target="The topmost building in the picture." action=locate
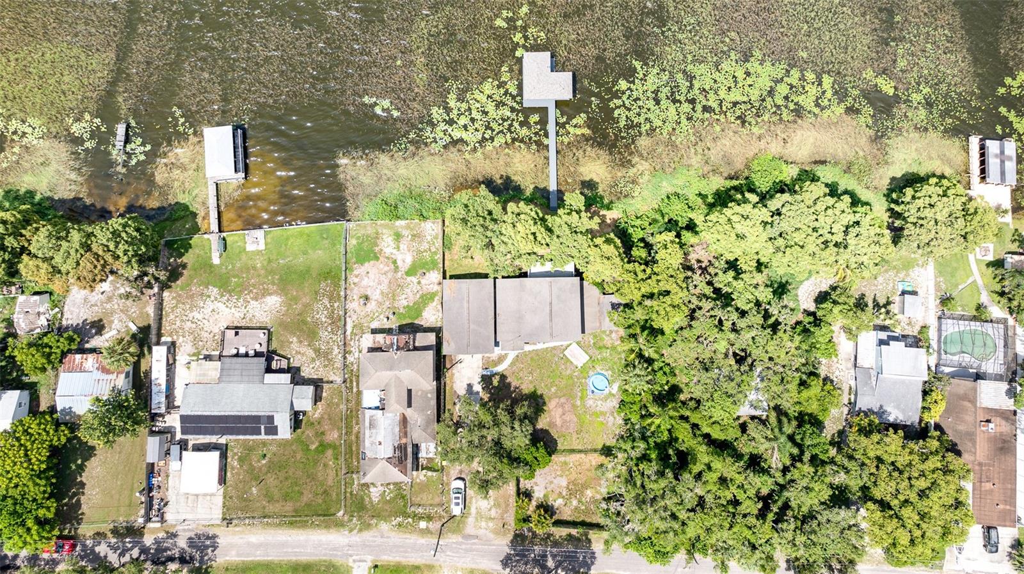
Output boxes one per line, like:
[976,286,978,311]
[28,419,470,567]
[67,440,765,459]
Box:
[523,45,573,107]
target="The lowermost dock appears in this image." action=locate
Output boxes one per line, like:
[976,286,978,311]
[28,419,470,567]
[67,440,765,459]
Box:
[207,182,223,231]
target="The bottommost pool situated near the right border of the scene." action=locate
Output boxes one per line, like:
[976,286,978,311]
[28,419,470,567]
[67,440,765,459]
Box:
[939,327,996,362]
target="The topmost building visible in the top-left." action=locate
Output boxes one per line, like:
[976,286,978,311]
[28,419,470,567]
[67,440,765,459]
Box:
[204,125,252,182]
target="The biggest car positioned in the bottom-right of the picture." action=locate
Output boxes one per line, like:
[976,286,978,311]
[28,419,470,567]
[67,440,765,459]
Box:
[979,524,1002,554]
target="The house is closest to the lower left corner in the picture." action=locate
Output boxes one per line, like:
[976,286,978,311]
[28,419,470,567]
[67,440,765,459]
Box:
[0,387,39,432]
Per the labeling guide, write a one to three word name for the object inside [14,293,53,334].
shed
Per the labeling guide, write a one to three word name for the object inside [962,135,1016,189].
building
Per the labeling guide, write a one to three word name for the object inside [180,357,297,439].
house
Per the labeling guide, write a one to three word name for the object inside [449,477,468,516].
car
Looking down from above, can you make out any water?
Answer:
Yes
